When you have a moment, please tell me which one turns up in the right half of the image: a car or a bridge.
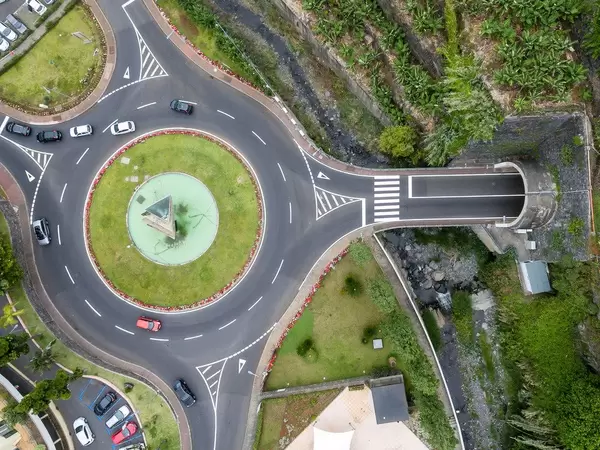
bridge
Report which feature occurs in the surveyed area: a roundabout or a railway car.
roundabout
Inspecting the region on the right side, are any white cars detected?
No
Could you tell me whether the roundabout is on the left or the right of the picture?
left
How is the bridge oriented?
from left to right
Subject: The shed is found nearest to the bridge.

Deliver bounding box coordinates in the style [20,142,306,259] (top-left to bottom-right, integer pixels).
[517,261,552,294]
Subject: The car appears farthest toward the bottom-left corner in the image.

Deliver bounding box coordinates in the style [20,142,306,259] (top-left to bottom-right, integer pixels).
[75,417,95,446]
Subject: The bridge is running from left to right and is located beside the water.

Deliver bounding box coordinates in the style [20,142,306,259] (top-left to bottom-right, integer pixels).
[326,154,524,234]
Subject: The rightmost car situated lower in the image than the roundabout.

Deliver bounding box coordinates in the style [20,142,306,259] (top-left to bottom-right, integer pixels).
[174,378,196,407]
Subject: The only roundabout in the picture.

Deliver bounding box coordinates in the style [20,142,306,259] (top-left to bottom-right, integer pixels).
[33,79,316,362]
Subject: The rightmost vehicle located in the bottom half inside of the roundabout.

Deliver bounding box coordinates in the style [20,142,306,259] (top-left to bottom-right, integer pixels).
[136,316,162,332]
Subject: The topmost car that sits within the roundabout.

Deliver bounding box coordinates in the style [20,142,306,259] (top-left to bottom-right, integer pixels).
[169,99,195,115]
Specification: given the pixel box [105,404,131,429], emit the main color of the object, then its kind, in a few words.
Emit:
white car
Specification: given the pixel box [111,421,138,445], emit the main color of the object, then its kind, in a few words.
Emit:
red car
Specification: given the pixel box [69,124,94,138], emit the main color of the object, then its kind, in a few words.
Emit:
white vehicle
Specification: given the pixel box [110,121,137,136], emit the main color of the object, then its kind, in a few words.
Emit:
white car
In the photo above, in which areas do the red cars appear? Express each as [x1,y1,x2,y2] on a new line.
[111,421,138,445]
[136,316,162,332]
